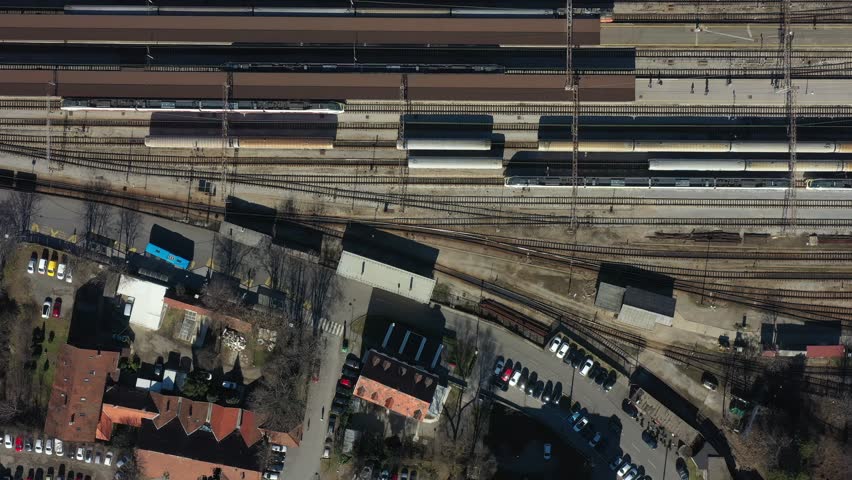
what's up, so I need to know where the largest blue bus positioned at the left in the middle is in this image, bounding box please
[146,244,193,272]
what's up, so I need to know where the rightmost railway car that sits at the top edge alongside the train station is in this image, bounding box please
[554,7,610,21]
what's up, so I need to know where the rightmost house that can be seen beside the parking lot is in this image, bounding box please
[692,439,731,480]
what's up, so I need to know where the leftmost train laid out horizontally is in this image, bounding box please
[63,97,345,111]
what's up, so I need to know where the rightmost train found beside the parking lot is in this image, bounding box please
[503,176,790,189]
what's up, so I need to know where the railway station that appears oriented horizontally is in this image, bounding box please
[0,14,852,104]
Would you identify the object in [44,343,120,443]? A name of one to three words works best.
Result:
building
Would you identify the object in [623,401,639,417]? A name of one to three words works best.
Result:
car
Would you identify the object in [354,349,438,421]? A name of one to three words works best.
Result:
house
